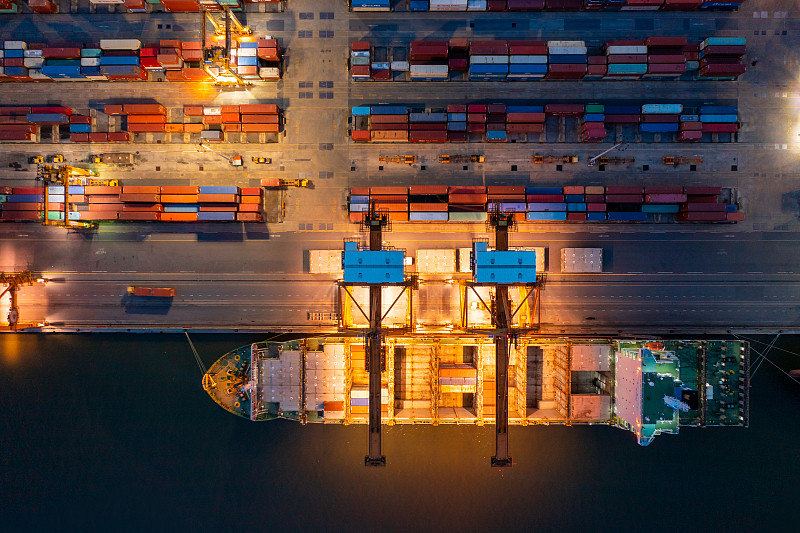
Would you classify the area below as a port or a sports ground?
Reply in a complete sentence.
It's a port.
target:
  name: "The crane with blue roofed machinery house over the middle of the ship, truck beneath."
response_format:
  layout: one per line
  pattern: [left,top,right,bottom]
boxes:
[445,198,552,468]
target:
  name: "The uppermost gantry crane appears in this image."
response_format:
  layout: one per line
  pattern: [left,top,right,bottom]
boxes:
[195,3,252,84]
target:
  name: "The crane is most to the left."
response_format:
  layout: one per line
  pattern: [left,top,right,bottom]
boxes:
[0,274,44,330]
